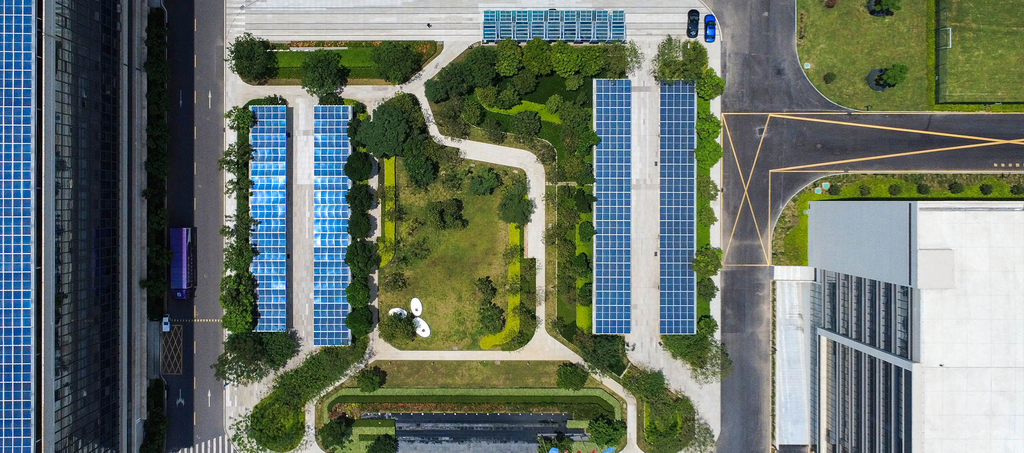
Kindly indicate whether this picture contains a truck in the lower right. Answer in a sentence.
No, in the lower right there is no truck.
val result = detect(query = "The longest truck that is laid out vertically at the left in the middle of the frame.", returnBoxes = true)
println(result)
[170,227,194,299]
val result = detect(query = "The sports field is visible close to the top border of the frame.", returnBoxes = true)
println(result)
[948,0,1024,100]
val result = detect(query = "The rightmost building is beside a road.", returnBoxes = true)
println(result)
[806,200,1024,453]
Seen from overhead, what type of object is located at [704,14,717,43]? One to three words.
vehicle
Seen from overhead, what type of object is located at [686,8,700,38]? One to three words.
car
